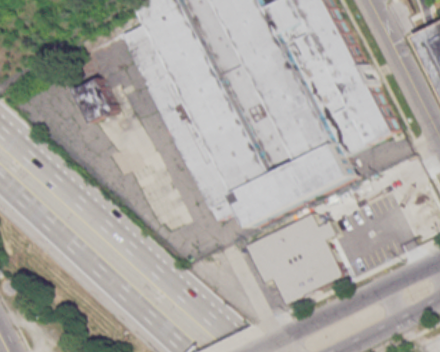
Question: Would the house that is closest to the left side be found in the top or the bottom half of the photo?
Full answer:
The house that is closest to the left side is in the top half of the image.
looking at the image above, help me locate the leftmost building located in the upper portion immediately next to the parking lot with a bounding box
[124,0,402,228]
